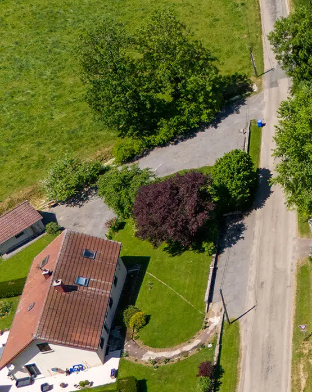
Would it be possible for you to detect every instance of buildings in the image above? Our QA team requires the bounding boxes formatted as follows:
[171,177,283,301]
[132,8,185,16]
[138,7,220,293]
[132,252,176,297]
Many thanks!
[0,228,125,377]
[0,198,46,256]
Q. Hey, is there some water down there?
No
